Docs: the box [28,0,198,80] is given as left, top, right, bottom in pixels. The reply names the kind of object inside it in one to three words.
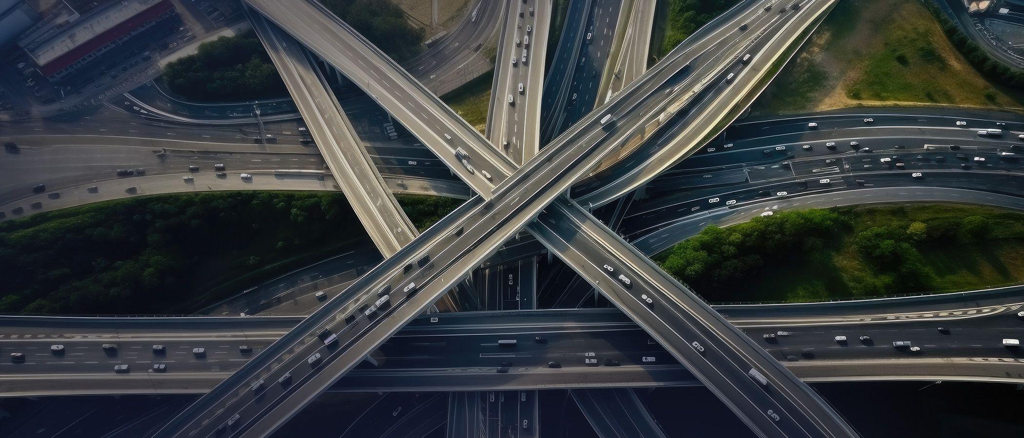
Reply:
building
